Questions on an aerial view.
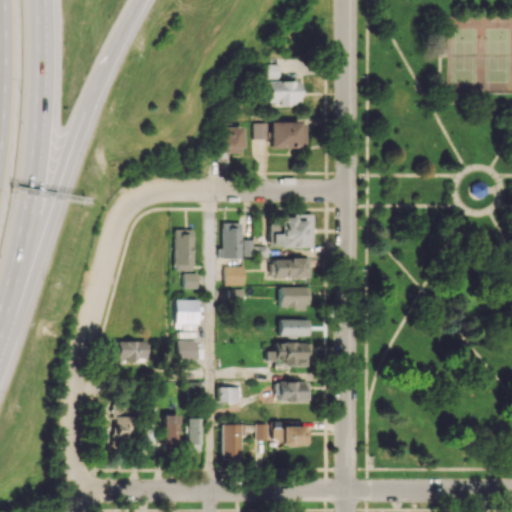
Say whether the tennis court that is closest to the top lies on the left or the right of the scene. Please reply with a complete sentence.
The tennis court that is closest to the top appears in the right half of the scene.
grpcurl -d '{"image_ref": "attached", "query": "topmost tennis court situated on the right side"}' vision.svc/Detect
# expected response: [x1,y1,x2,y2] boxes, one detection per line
[448,18,512,93]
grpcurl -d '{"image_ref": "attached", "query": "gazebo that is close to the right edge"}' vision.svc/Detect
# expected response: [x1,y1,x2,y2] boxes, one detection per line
[470,181,488,198]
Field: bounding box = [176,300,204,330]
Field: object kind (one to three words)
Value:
building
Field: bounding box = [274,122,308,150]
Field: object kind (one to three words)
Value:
house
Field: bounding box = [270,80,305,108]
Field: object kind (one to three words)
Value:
house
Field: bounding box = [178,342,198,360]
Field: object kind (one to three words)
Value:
building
